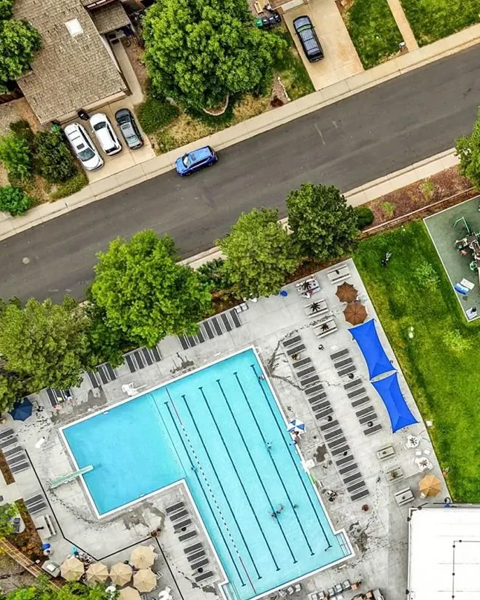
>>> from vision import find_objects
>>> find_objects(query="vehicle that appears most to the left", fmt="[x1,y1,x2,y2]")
[65,121,101,169]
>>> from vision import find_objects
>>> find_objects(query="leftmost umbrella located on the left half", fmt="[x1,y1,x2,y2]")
[10,398,36,420]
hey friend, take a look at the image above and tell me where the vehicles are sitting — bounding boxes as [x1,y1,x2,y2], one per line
[116,108,144,151]
[294,14,323,63]
[91,113,121,154]
[175,146,220,174]
[65,121,101,169]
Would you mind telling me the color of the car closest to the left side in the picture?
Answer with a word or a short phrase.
white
